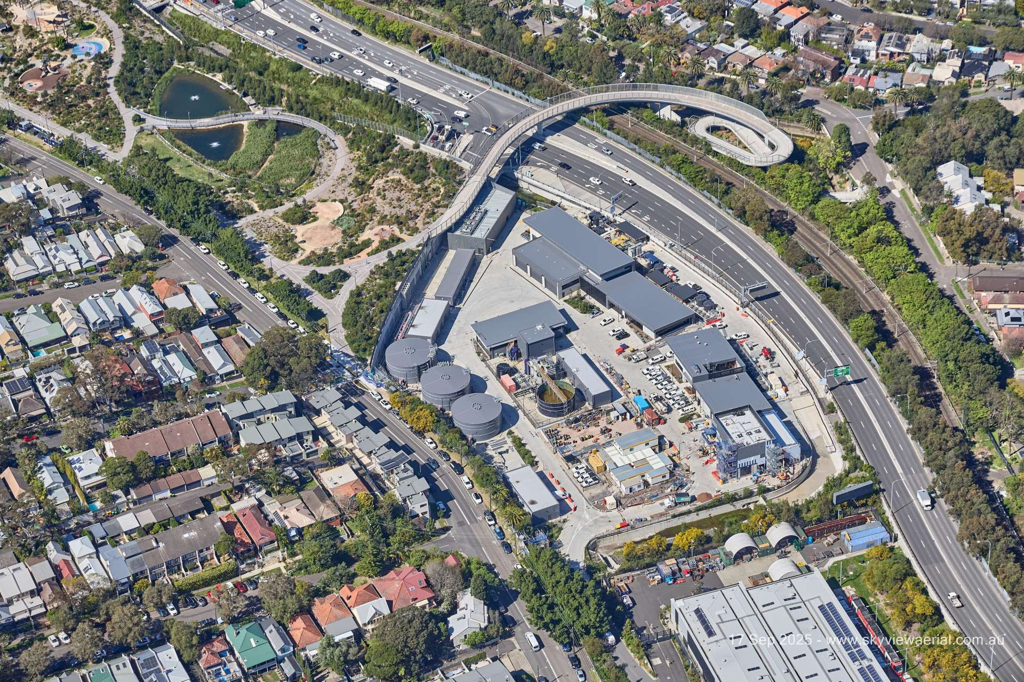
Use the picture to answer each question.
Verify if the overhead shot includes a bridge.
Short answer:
Yes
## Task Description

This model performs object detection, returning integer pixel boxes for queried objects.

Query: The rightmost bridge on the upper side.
[415,84,795,237]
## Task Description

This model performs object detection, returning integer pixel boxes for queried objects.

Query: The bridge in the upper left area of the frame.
[122,106,339,140]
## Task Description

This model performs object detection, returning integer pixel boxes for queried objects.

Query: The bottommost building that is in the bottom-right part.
[673,569,882,682]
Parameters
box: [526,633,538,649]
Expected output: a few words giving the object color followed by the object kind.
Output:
white vehicle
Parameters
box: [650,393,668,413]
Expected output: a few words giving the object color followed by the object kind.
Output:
white vehicle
